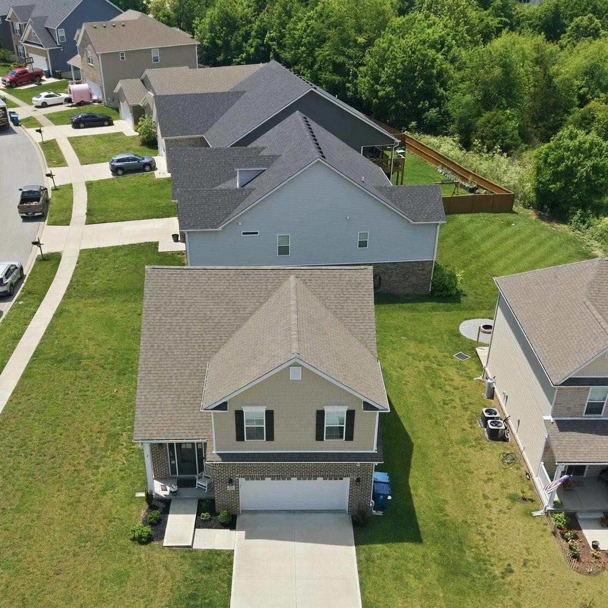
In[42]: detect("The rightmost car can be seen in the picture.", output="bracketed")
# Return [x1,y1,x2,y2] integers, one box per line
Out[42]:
[106,151,154,174]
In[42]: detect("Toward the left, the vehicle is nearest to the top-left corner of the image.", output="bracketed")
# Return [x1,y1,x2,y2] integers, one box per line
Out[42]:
[0,68,45,87]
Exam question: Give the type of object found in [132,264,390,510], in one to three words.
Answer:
house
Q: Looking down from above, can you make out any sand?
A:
No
